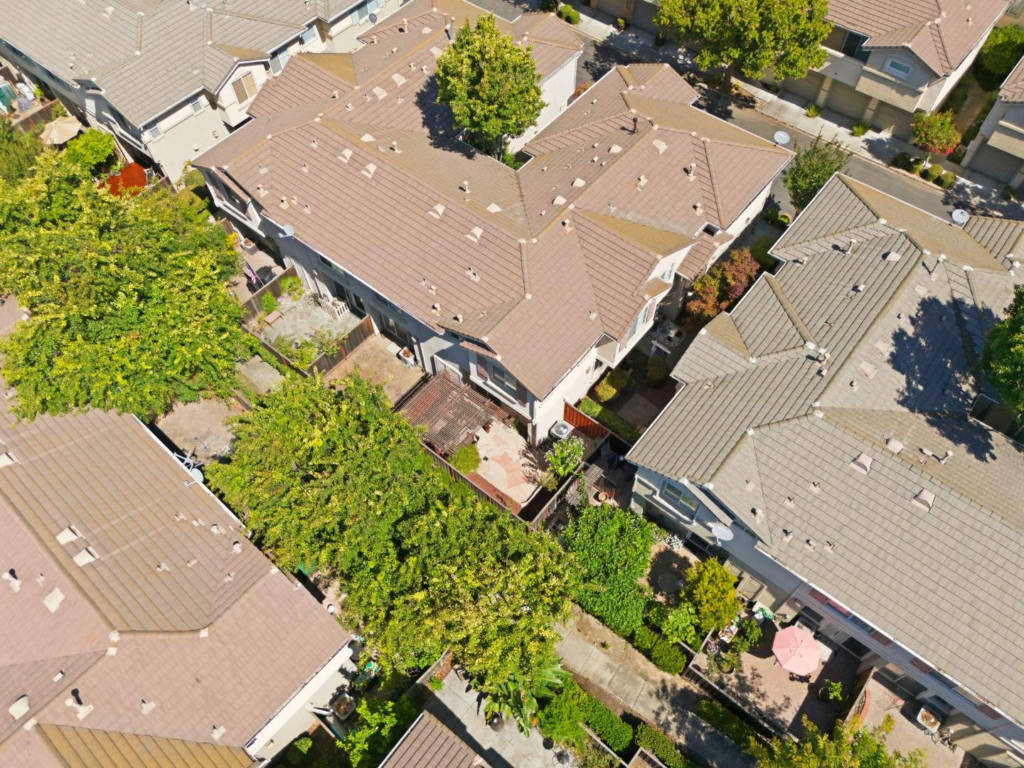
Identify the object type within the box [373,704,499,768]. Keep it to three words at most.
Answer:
house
